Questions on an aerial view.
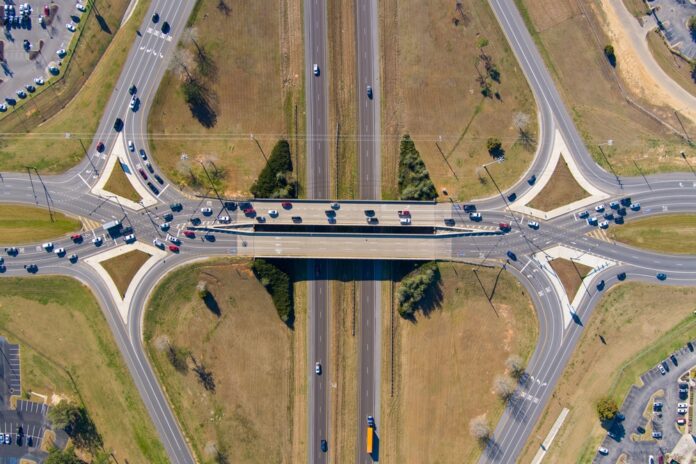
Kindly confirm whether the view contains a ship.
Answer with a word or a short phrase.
No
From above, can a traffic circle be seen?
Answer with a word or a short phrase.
No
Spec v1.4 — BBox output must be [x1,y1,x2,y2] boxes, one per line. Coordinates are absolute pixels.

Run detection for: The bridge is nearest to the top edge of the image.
[214,198,453,227]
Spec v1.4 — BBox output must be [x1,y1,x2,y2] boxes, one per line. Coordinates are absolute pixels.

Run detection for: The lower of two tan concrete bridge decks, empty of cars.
[237,231,453,260]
